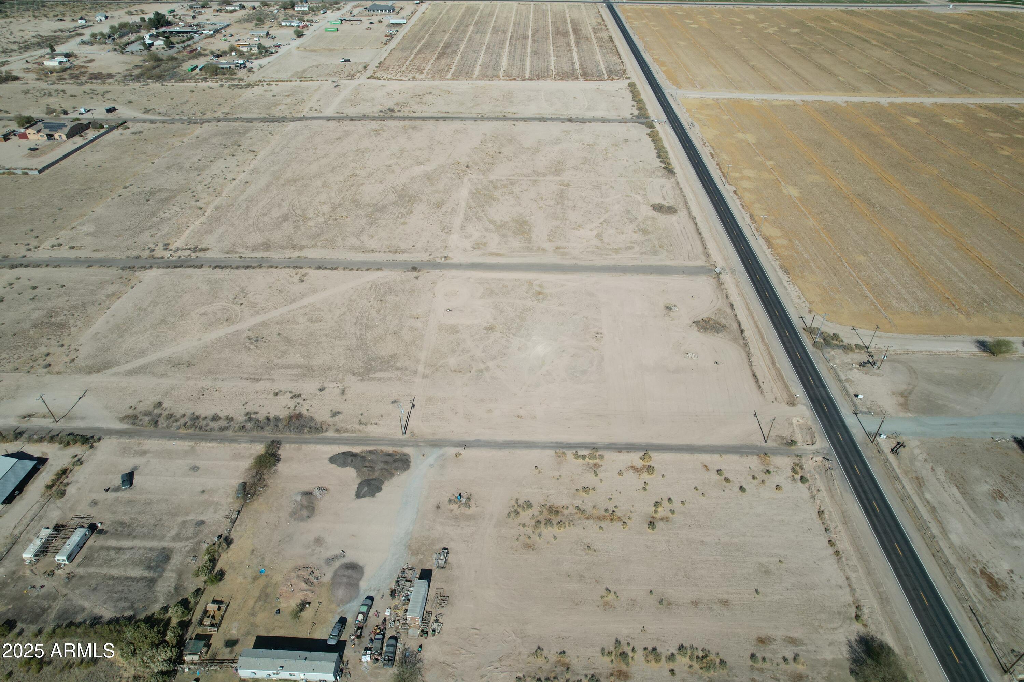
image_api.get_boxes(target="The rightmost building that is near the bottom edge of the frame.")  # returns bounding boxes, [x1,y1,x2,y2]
[235,646,342,682]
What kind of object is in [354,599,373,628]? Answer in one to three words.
vehicle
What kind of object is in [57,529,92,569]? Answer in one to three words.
trailer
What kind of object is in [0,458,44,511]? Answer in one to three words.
barn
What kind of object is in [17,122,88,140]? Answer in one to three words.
house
